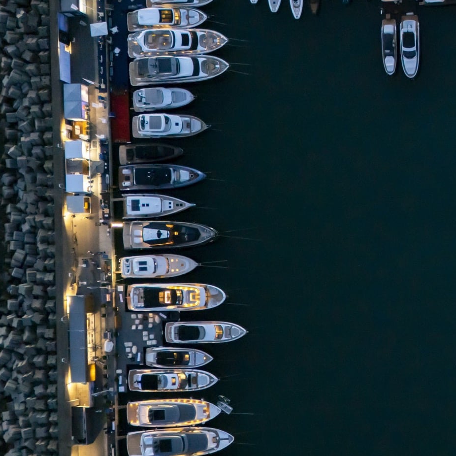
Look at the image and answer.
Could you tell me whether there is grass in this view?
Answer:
No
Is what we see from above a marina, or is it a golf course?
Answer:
marina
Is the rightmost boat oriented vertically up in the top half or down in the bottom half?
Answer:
top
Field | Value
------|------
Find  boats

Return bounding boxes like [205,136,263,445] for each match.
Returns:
[218,395,231,406]
[127,396,232,426]
[132,85,201,112]
[109,253,205,278]
[119,142,193,165]
[165,321,262,343]
[121,194,209,217]
[124,219,227,251]
[127,424,253,456]
[127,7,217,31]
[217,402,236,414]
[399,8,419,79]
[127,368,233,391]
[127,28,247,58]
[268,0,282,13]
[381,9,398,75]
[127,283,241,312]
[145,347,220,368]
[128,53,246,84]
[119,164,208,192]
[132,114,216,141]
[289,0,304,18]
[419,0,456,7]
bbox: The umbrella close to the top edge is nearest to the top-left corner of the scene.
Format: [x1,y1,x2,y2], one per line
[90,22,107,37]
